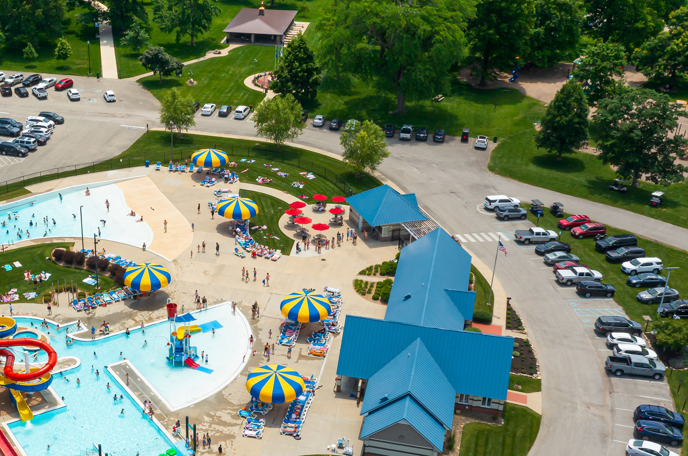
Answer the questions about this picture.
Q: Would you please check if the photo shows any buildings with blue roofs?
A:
Yes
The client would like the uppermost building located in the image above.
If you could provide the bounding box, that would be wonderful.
[220,0,301,49]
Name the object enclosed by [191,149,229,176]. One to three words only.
umbrella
